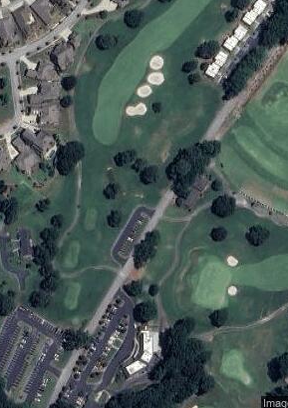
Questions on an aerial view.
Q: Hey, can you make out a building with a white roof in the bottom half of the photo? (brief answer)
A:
Yes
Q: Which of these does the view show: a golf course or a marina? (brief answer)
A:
golf course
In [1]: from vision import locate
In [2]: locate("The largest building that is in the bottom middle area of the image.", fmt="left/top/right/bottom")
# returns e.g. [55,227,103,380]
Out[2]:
[127,331,161,377]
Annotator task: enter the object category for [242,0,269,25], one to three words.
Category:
building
